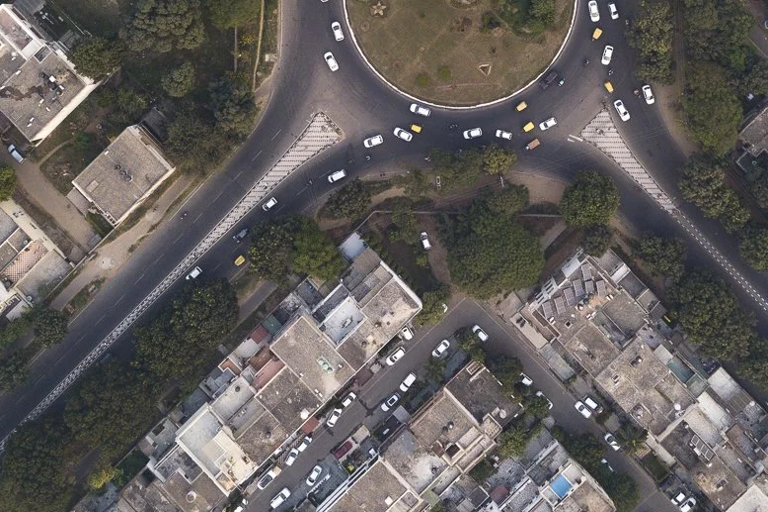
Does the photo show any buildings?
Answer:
Yes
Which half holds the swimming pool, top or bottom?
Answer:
bottom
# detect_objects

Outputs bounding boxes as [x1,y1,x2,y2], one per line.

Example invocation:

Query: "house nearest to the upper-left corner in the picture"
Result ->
[0,0,97,143]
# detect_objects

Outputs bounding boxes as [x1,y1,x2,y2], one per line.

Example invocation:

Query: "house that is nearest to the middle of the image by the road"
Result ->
[313,231,423,370]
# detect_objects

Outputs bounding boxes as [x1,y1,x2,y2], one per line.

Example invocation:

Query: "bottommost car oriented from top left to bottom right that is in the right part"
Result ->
[603,430,621,452]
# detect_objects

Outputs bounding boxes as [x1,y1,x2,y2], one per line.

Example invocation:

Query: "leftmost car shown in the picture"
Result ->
[7,144,24,163]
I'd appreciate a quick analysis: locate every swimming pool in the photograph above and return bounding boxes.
[549,473,573,497]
